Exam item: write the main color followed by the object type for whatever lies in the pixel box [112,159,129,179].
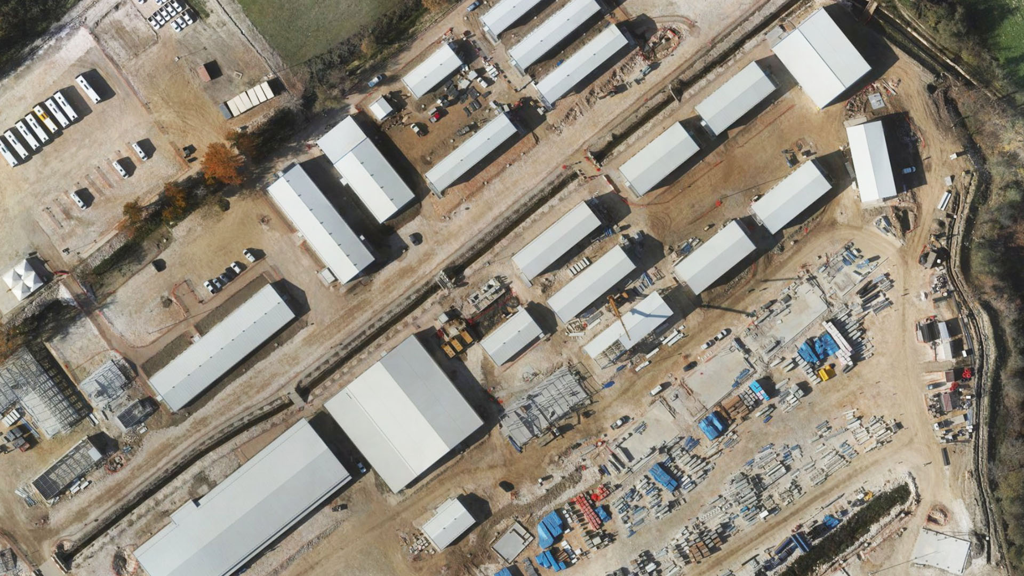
white vehicle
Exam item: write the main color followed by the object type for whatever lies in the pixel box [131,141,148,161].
white vehicle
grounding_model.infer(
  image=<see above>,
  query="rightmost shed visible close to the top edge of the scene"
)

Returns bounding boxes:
[772,7,872,109]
